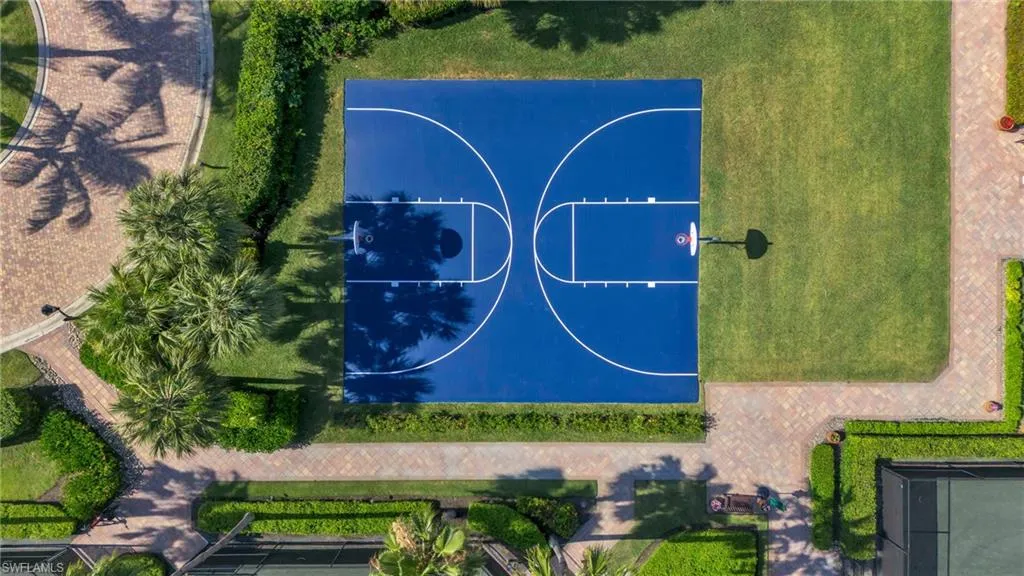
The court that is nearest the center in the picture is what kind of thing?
basketball court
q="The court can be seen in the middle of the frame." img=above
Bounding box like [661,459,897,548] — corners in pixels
[344,79,702,404]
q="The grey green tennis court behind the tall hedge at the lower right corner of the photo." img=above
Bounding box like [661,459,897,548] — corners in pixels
[887,463,1024,576]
